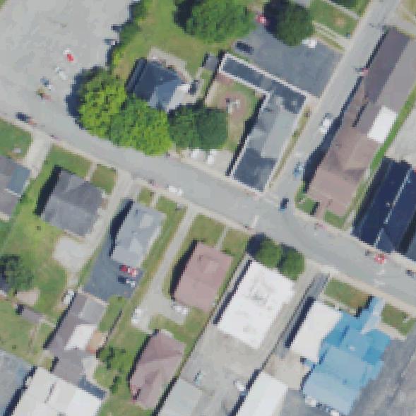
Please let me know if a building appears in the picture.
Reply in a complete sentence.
Yes, I can see a building in this picture.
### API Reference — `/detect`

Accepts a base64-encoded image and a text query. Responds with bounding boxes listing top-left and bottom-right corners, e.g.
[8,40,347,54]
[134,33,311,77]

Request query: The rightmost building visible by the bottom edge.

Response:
[288,296,390,414]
